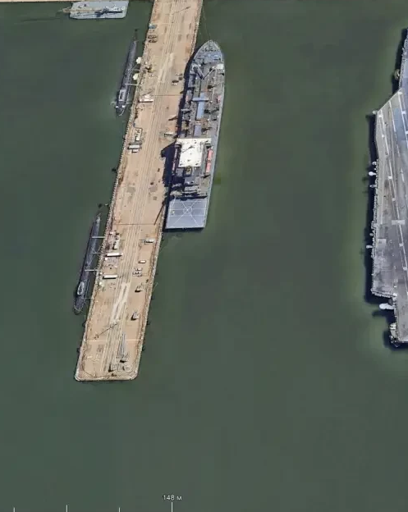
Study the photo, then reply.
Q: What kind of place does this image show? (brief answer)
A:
port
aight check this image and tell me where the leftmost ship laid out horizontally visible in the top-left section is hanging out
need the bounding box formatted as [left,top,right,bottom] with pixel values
[63,0,128,21]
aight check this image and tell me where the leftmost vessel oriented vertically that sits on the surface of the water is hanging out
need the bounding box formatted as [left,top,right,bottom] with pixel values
[74,206,101,312]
